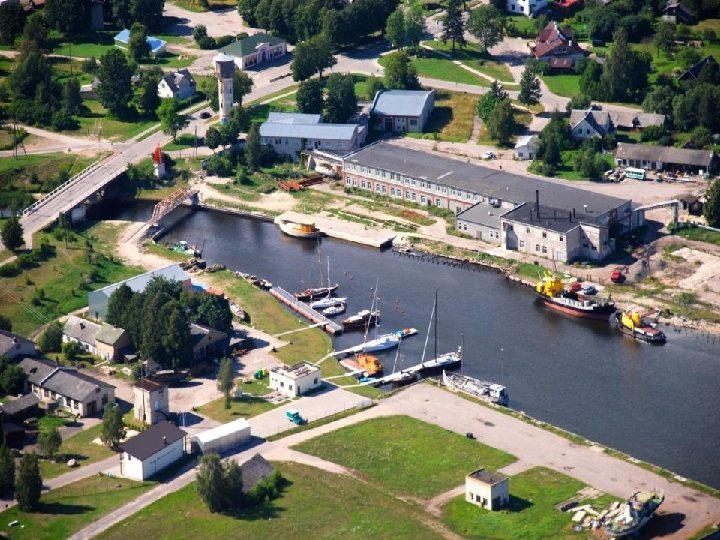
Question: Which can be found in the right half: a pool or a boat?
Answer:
boat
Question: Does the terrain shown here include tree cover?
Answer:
Yes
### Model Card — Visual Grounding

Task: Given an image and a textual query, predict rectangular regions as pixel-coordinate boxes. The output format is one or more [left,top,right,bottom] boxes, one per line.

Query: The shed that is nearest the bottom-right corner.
[466,468,510,511]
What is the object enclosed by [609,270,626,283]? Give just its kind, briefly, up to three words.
vehicle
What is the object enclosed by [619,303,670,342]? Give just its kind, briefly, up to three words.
boat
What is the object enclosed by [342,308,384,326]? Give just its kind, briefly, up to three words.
boat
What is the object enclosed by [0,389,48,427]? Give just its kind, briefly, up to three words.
shed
